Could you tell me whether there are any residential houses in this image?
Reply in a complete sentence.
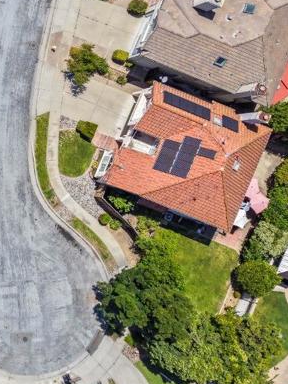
Yes, there's a residential house down there.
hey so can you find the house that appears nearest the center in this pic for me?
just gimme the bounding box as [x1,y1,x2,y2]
[88,82,272,233]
